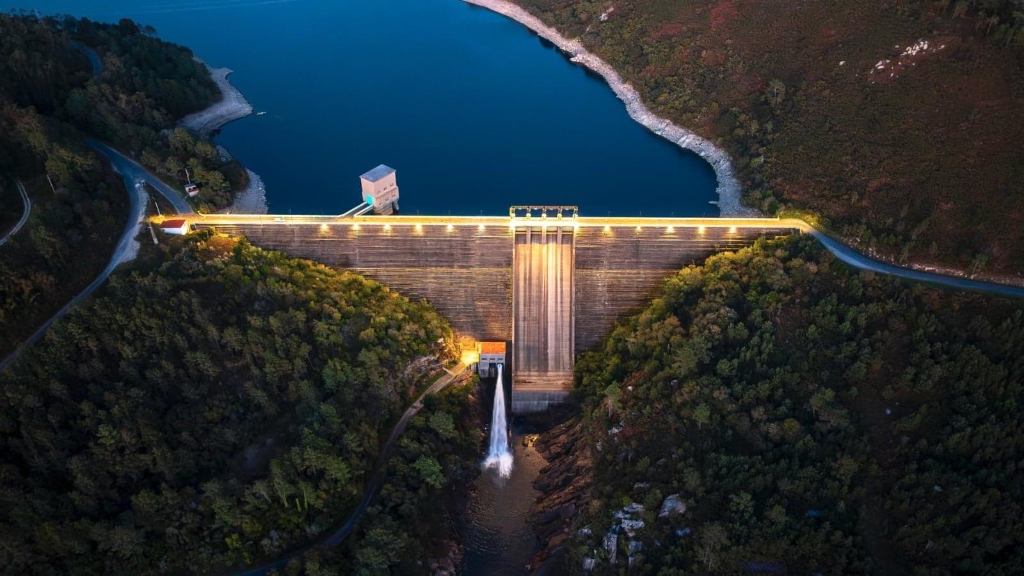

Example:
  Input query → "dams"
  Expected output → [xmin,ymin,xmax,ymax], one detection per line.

[188,210,796,429]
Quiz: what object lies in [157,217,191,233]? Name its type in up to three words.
house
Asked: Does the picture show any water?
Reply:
Yes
